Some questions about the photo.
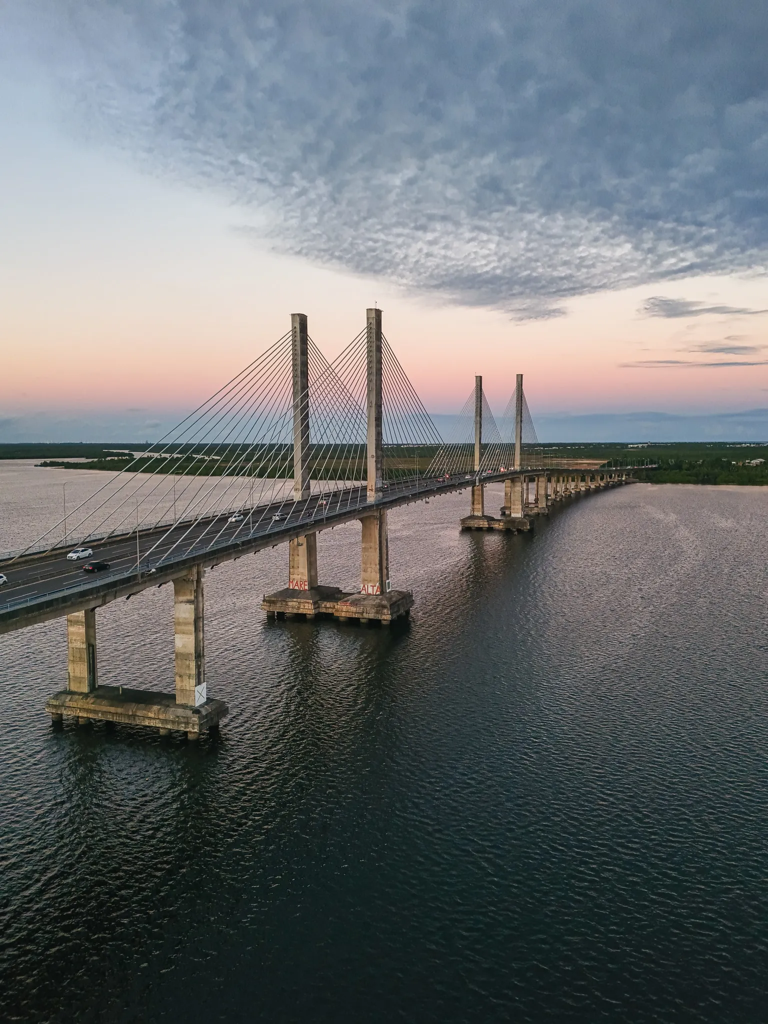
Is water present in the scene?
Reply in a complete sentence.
Yes, some water is visible.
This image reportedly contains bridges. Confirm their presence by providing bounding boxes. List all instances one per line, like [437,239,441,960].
[0,300,660,740]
